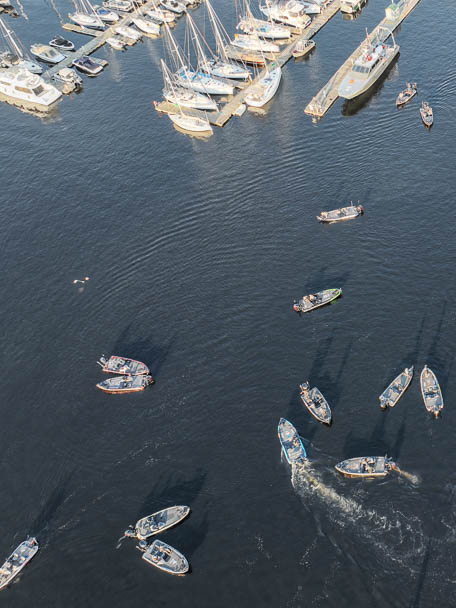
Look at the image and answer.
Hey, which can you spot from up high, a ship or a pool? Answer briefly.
ship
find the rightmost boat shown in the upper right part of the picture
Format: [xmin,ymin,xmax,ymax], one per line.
[419,100,434,127]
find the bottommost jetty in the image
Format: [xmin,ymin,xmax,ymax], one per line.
[152,103,217,124]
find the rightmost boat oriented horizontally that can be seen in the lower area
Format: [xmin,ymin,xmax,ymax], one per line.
[335,457,394,477]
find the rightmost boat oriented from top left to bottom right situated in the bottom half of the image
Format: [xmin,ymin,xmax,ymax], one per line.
[301,386,332,423]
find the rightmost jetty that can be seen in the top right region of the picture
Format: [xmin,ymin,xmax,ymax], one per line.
[305,0,418,114]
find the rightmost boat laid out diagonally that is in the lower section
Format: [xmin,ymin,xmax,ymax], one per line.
[378,365,414,408]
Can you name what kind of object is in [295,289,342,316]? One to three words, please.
boat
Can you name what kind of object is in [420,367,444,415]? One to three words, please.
boat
